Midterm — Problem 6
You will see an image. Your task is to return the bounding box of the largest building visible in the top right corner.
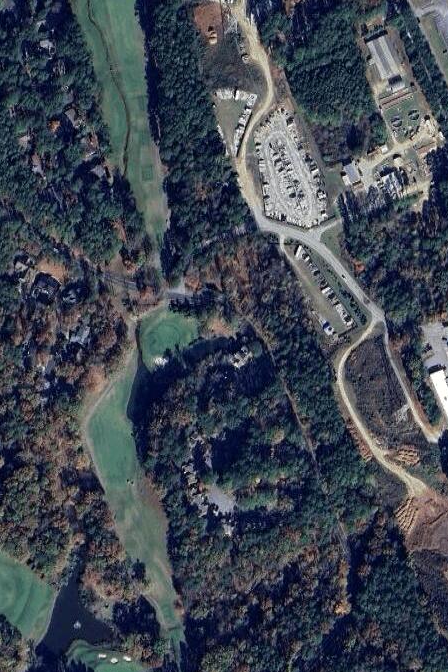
[367,34,401,80]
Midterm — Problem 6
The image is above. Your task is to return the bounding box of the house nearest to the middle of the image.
[224,344,251,368]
